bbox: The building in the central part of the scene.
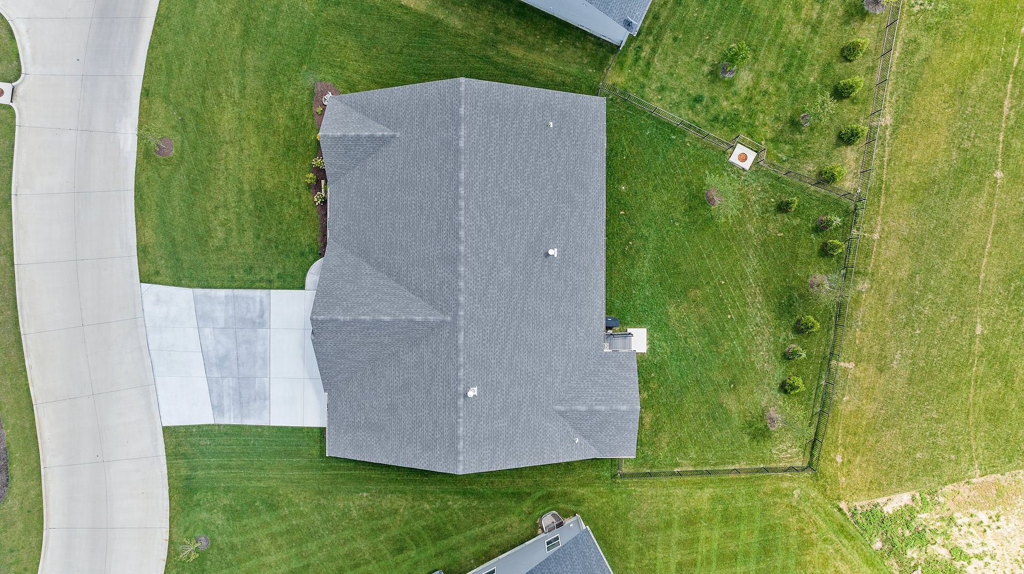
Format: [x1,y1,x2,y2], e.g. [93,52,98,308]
[310,78,640,474]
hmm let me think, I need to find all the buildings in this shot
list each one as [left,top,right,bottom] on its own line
[310,78,640,474]
[523,0,651,46]
[465,515,614,574]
